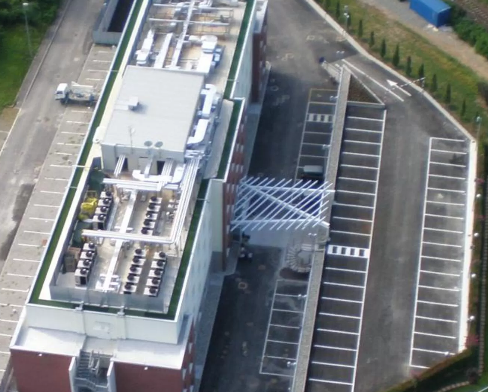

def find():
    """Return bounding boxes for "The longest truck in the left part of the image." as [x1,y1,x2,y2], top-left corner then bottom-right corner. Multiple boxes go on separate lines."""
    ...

[57,83,100,105]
